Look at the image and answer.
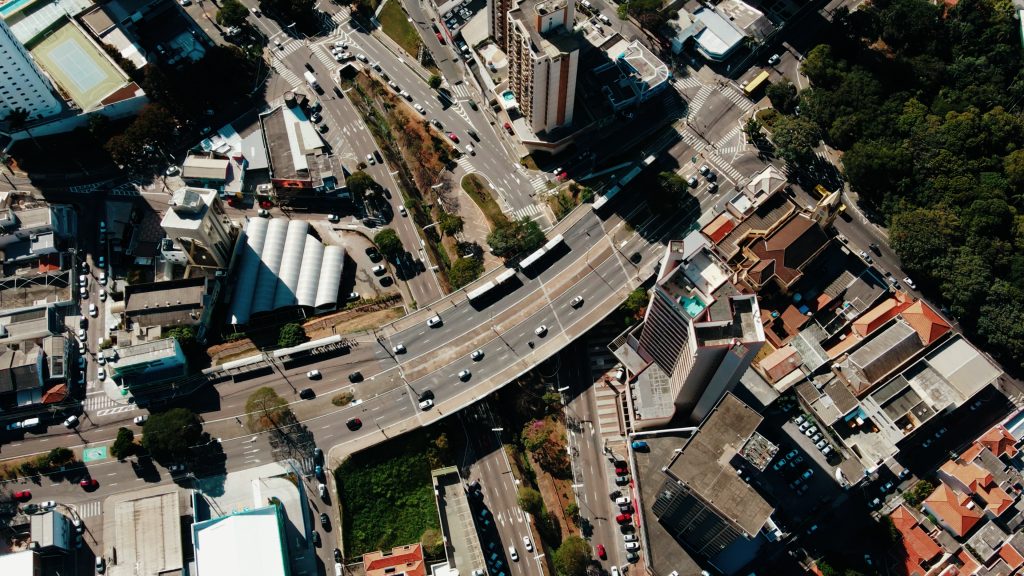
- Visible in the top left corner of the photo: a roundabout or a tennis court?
tennis court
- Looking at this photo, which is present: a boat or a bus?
bus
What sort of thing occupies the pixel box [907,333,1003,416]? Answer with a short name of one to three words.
building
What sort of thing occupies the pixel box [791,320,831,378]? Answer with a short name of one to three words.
house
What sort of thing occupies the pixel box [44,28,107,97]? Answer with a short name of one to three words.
tennis court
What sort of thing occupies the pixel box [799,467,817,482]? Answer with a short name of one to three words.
car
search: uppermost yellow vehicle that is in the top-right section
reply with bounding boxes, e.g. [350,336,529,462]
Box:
[741,72,770,99]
